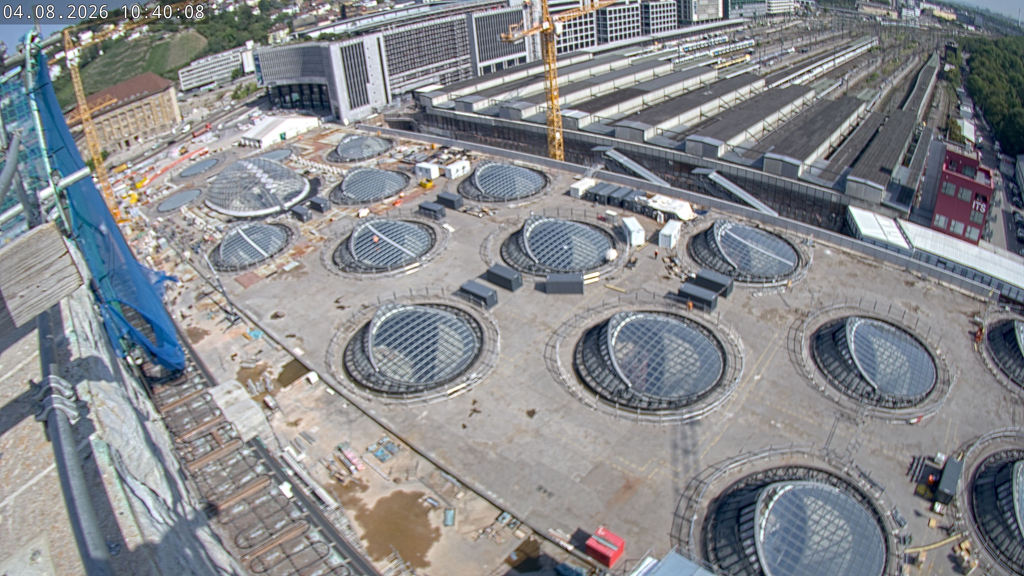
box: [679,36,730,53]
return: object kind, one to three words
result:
train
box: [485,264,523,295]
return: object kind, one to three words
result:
shipping container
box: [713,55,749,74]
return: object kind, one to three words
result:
train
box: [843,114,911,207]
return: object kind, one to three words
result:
shed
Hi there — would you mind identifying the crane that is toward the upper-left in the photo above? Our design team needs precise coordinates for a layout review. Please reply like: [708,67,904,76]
[48,0,228,220]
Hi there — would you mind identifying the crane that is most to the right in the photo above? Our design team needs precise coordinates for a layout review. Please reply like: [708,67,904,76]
[513,0,634,161]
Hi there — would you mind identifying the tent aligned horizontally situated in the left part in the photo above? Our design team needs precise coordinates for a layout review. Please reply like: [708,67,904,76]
[230,110,319,149]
